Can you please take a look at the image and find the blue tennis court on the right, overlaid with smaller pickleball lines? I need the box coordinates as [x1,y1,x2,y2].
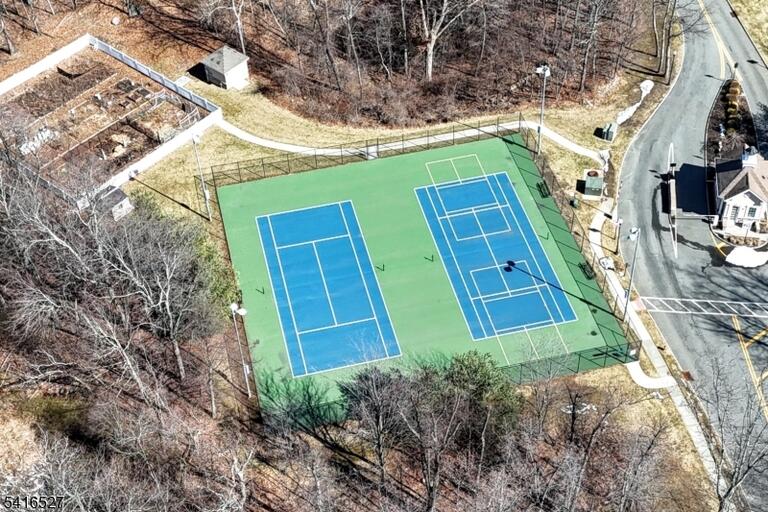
[415,154,578,364]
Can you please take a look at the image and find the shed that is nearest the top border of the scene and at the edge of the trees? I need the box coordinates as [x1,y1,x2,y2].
[202,46,249,88]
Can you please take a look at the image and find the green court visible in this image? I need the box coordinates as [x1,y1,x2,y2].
[215,133,638,436]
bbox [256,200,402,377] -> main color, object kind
blue tennis court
